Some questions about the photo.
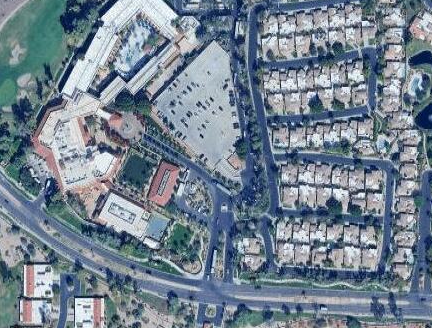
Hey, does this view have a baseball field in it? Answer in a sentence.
No, the frame has no baseball field in it.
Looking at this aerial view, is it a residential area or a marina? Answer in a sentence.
It's a residential area.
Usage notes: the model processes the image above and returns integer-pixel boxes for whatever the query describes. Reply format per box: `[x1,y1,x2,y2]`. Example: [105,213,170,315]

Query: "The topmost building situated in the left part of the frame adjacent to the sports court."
[148,160,179,207]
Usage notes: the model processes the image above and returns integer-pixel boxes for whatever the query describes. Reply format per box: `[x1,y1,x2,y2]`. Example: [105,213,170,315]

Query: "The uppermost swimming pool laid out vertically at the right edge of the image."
[410,68,423,95]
